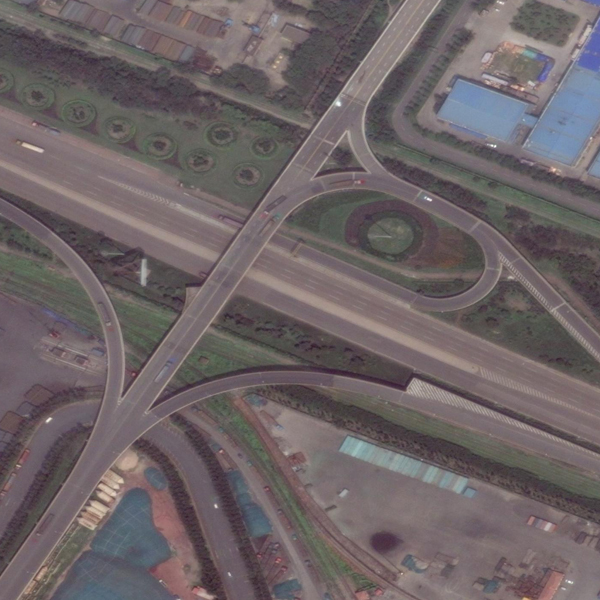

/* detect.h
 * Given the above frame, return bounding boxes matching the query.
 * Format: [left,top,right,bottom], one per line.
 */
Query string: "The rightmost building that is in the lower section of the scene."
[539,571,567,600]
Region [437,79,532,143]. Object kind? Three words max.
building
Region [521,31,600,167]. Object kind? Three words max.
building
